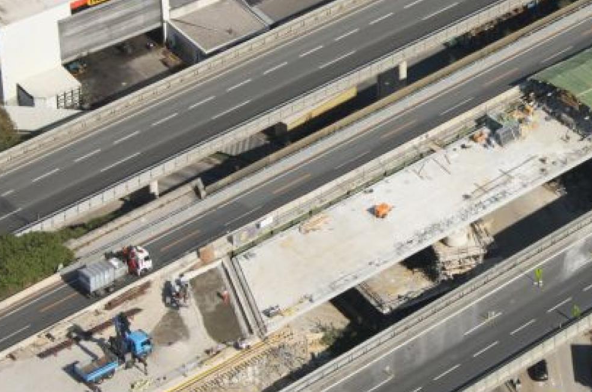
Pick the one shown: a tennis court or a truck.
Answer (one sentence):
There is a truck in the scene.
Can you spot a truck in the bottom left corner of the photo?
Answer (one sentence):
Yes, looking in the bottom left corner of the photo, one can make out a truck.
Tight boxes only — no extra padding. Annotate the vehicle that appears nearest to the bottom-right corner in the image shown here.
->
[531,362,550,382]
